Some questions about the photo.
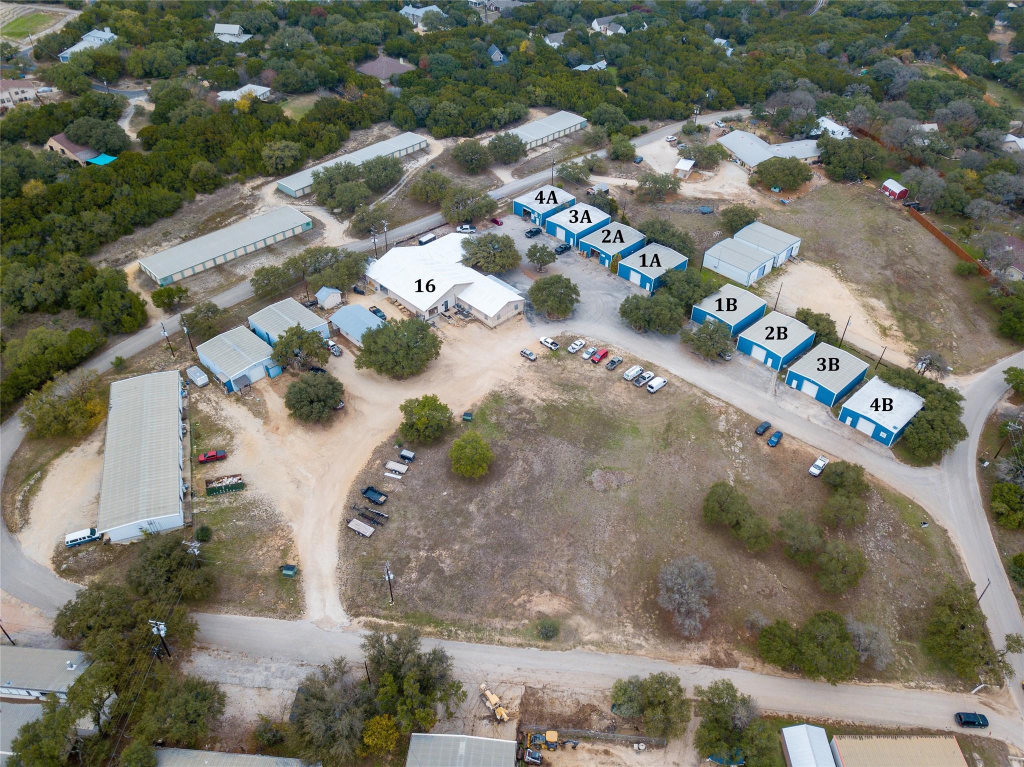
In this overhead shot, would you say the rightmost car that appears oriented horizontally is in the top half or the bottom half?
bottom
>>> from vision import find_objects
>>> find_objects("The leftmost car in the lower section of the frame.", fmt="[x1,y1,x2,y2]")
[66,530,96,548]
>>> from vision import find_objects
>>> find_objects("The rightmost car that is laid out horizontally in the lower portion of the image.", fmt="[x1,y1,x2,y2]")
[950,709,993,731]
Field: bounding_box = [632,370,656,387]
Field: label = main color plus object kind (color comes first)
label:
white vehicle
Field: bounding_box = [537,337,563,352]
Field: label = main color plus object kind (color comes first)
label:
white vehicle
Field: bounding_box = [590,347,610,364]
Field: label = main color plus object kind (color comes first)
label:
red vehicle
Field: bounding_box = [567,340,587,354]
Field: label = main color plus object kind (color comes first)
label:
white car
